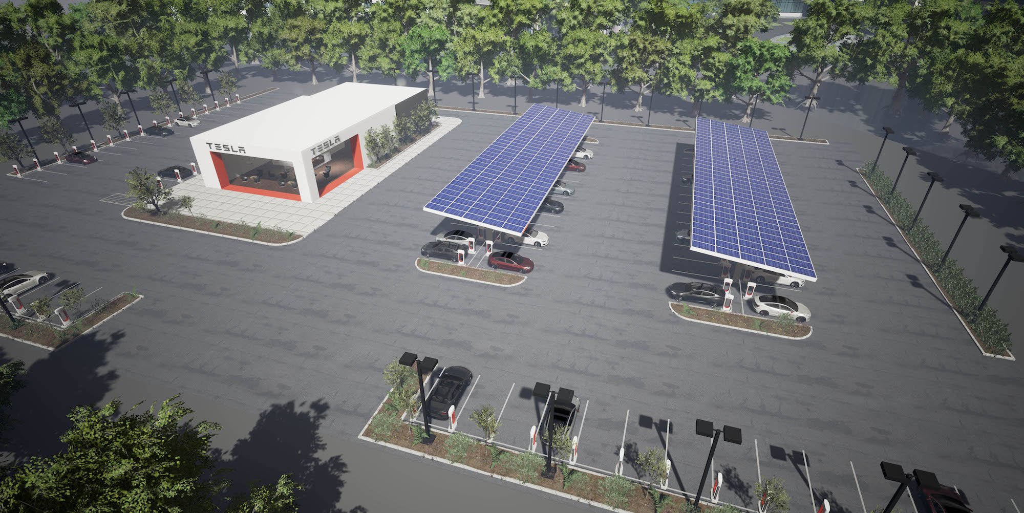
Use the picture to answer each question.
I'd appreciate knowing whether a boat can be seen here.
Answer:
No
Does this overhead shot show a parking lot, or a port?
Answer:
parking lot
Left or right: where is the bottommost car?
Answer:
right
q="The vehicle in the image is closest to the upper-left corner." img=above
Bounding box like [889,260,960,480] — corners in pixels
[64,152,99,166]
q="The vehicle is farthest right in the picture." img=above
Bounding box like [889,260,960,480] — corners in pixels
[916,479,971,513]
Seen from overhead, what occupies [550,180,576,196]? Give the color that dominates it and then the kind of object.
gray car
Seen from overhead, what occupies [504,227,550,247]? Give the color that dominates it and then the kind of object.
white car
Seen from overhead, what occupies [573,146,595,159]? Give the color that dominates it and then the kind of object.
white vehicle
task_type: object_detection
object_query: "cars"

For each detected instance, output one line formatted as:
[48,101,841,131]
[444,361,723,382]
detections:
[916,479,971,513]
[64,152,99,166]
[565,158,587,172]
[667,280,725,306]
[504,227,550,247]
[683,175,693,186]
[174,116,202,127]
[433,228,479,247]
[425,365,470,418]
[0,271,47,301]
[573,146,595,159]
[750,293,812,320]
[160,165,195,180]
[421,240,468,261]
[0,261,13,273]
[550,180,576,196]
[485,250,535,273]
[750,269,805,288]
[149,125,178,137]
[539,196,566,214]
